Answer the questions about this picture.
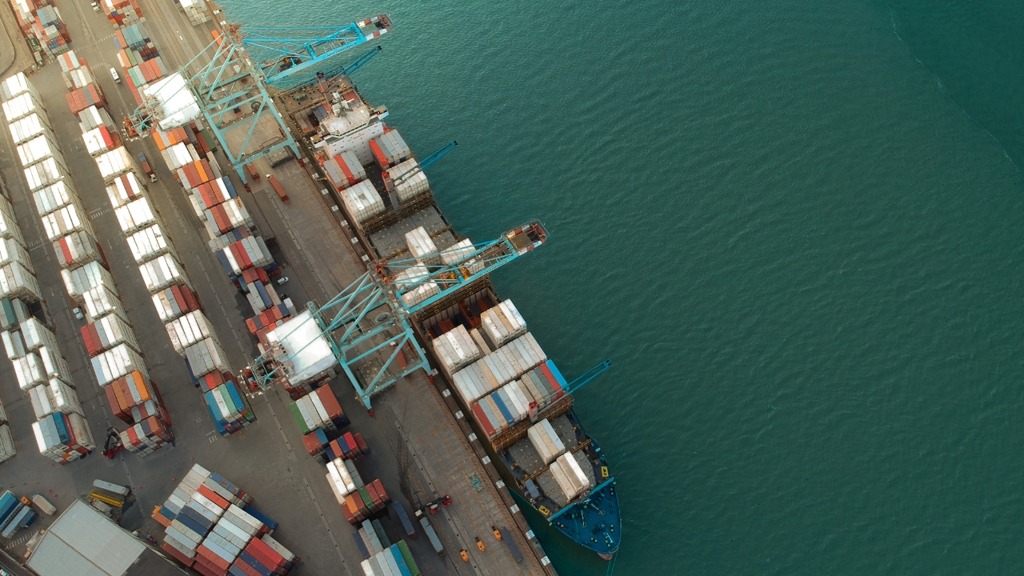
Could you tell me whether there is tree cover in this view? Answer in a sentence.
No, there's no tree cover in this view.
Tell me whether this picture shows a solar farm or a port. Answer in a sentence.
What you see here is a port.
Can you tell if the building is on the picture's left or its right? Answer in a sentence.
The building appears in the left half of the scene.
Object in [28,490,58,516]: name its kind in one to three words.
truck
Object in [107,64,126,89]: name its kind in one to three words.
vehicle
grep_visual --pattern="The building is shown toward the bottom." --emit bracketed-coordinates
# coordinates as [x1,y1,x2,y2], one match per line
[24,498,195,576]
